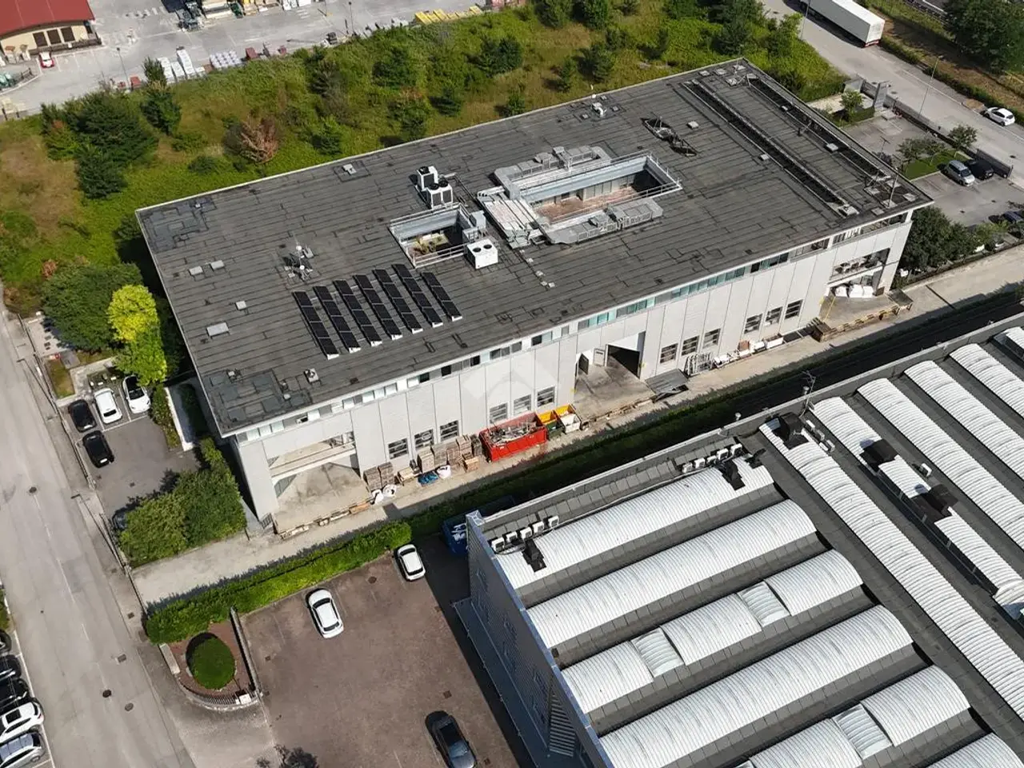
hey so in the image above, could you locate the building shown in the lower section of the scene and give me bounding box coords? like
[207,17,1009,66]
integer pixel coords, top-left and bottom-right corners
[457,312,1024,768]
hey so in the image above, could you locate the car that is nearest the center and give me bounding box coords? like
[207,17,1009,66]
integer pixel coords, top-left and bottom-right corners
[393,544,429,586]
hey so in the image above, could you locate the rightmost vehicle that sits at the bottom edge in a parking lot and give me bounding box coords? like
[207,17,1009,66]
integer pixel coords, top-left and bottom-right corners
[427,707,474,768]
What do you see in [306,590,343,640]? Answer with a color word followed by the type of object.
white car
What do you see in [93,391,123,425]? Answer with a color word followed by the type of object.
white car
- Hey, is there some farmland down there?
No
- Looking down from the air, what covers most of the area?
buildings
